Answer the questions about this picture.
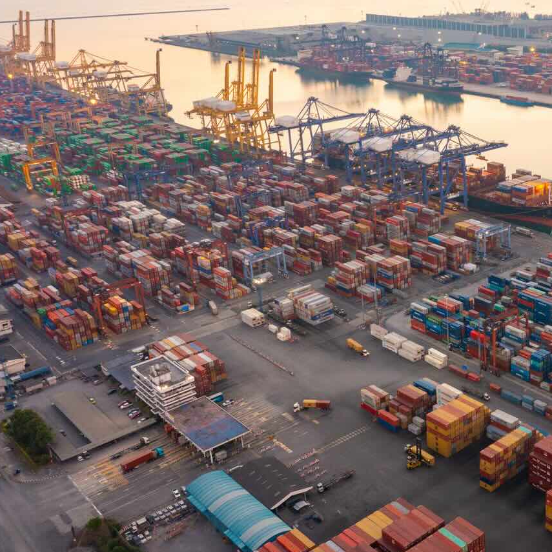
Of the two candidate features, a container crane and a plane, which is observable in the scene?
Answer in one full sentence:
The one in the frame is a container crane.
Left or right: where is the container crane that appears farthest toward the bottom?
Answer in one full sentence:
You can find the container crane that appears farthest toward the bottom on the right side of the picture.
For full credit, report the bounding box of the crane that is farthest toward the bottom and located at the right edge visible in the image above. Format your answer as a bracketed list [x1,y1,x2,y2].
[481,314,531,375]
